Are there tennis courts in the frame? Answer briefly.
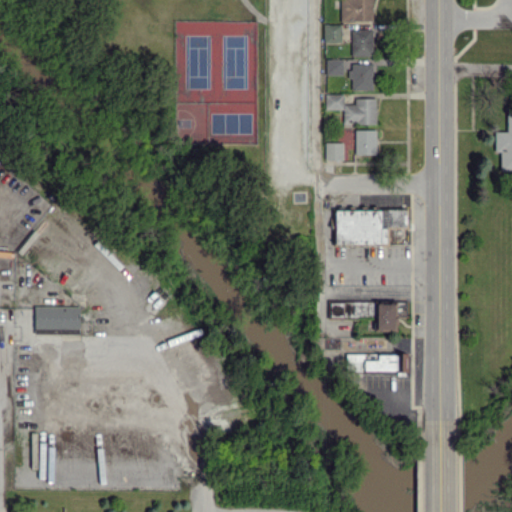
Yes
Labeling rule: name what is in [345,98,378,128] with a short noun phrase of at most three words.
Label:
house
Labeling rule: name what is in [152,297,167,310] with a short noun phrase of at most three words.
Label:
vehicle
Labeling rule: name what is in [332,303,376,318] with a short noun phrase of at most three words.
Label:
building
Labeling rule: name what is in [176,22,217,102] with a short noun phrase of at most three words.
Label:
tennis court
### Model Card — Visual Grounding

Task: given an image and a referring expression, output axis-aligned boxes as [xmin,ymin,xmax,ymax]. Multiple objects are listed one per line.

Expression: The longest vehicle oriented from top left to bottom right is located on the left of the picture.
[96,244,124,272]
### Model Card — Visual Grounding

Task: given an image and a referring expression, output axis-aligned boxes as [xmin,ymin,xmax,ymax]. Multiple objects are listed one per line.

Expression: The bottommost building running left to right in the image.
[347,354,400,374]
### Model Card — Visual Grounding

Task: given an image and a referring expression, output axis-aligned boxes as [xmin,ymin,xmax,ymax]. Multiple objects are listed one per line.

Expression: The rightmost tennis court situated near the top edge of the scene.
[217,22,258,102]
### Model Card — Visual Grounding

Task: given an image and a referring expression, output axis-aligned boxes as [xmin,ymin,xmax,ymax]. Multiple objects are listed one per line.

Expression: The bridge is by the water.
[418,422,464,512]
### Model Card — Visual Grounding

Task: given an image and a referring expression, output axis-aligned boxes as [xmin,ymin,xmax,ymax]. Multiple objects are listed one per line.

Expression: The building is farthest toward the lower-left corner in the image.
[34,306,82,334]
